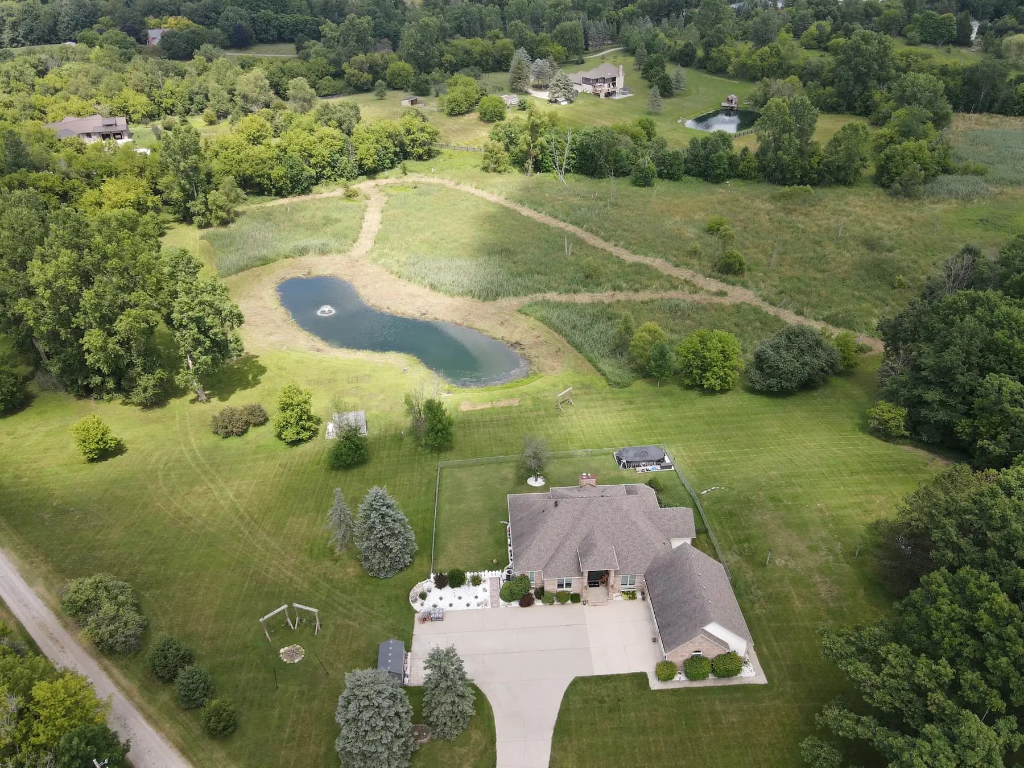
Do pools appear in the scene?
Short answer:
Yes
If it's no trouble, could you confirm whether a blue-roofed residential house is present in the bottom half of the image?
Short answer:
No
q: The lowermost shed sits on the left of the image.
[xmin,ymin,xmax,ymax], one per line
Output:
[371,618,405,685]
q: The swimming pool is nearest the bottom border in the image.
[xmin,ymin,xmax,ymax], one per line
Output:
[619,445,665,471]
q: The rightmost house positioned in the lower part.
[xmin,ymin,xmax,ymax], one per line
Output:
[507,470,754,673]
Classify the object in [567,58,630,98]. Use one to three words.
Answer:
house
